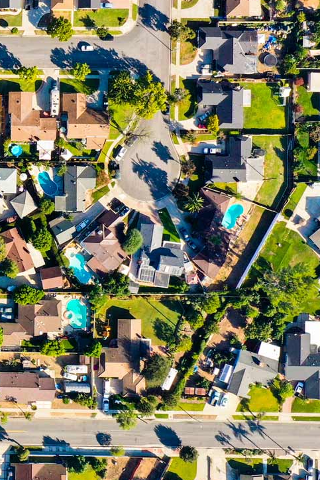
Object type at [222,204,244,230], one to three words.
swimming pool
